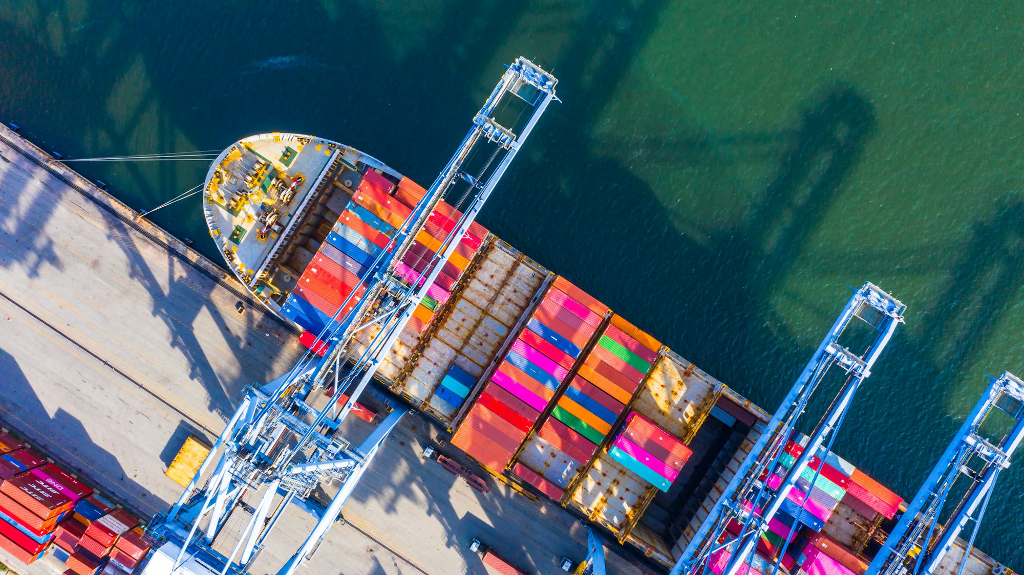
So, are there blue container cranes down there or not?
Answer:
Yes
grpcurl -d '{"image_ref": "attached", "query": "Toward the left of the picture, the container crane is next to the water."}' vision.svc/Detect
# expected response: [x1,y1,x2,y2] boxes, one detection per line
[121,46,565,575]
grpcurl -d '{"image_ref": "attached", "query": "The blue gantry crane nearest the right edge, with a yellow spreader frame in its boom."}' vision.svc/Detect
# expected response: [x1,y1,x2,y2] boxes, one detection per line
[866,370,1024,575]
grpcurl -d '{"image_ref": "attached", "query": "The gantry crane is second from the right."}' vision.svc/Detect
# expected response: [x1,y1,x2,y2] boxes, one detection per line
[564,278,916,575]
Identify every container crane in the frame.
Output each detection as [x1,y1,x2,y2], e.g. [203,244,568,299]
[866,370,1024,575]
[564,278,916,575]
[121,46,565,575]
